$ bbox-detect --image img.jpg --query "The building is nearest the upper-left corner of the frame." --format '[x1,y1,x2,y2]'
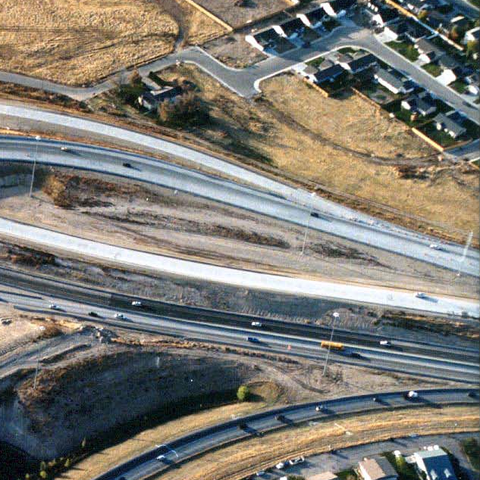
[138,87,178,107]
